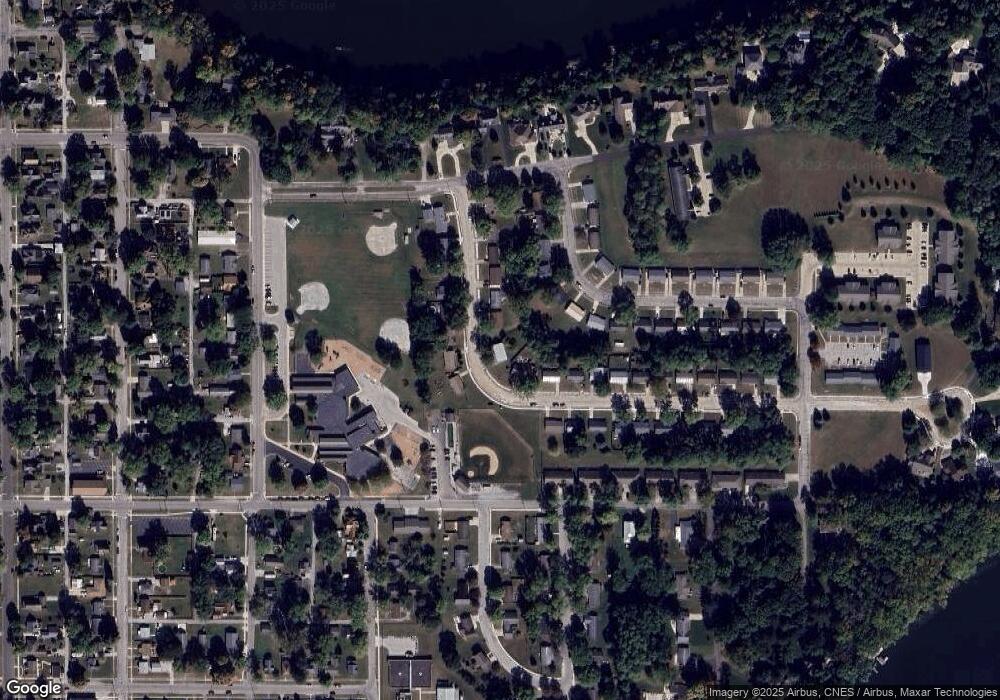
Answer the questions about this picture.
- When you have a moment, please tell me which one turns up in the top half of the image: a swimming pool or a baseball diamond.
baseball diamond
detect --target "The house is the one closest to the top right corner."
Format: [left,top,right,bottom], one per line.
[952,56,976,73]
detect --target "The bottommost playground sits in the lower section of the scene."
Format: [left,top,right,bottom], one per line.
[389,424,422,465]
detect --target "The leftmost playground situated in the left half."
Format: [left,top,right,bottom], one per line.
[313,340,386,380]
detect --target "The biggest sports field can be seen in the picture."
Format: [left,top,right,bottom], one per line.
[266,201,423,362]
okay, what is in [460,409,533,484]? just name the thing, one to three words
baseball field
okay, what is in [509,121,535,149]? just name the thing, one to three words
house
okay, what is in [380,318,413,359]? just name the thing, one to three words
baseball field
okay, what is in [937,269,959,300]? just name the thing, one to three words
building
